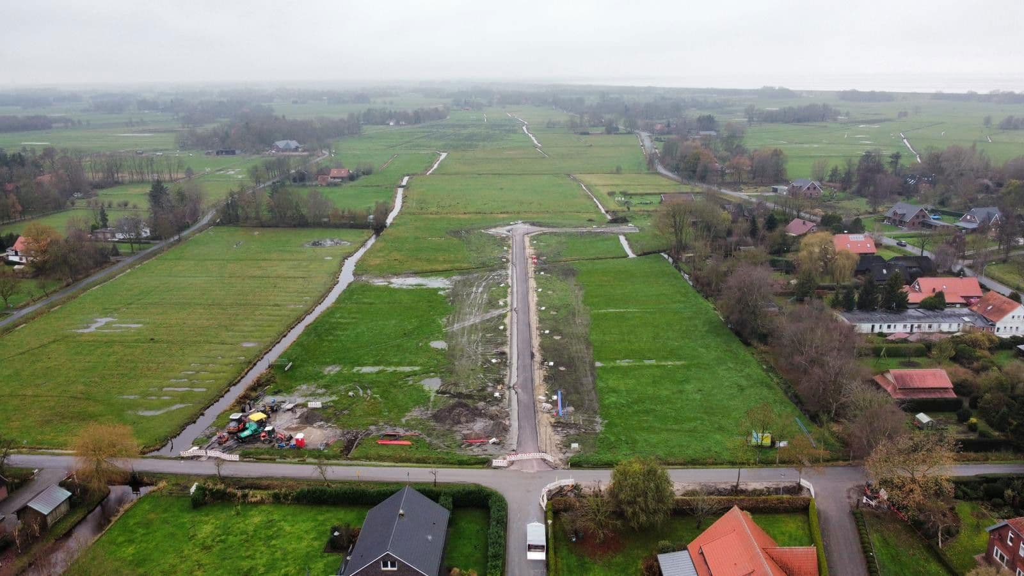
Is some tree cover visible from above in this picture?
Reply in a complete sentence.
Yes, some tree cover is visible.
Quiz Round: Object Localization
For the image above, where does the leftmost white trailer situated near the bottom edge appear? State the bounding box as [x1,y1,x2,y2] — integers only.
[526,518,547,558]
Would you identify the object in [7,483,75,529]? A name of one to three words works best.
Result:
shed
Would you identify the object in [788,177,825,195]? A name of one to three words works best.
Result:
house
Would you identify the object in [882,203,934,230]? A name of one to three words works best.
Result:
house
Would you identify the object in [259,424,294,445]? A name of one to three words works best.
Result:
work vehicle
